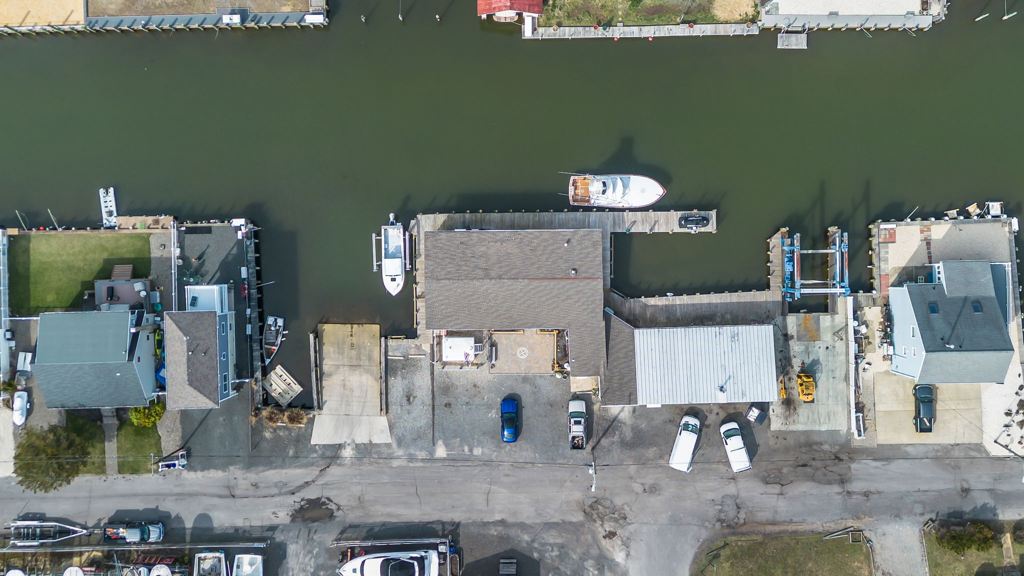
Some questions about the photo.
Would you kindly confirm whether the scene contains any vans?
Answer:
Yes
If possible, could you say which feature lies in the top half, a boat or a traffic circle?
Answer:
boat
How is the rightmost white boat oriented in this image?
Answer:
from left to right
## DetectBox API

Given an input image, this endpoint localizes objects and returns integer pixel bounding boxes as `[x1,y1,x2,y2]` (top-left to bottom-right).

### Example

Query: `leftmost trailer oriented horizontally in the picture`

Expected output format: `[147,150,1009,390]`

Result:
[4,520,103,549]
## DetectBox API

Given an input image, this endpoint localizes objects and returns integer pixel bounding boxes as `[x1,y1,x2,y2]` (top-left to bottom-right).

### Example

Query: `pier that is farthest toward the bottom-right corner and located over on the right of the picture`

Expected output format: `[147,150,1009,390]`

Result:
[849,290,881,306]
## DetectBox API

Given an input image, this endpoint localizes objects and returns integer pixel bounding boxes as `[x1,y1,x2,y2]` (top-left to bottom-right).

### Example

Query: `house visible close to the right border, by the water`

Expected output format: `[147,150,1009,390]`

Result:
[889,260,1014,384]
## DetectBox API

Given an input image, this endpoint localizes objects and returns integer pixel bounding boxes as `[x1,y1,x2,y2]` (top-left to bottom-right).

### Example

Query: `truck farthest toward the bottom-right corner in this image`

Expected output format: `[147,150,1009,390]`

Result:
[912,384,936,434]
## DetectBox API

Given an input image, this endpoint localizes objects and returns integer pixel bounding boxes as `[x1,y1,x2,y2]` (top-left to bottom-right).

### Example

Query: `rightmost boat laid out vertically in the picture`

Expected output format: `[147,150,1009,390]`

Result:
[382,217,405,294]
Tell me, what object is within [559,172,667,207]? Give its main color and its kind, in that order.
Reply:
white boat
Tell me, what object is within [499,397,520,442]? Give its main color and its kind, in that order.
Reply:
blue car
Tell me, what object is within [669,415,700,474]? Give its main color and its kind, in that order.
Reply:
white van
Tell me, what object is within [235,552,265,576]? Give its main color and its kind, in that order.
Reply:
white boat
